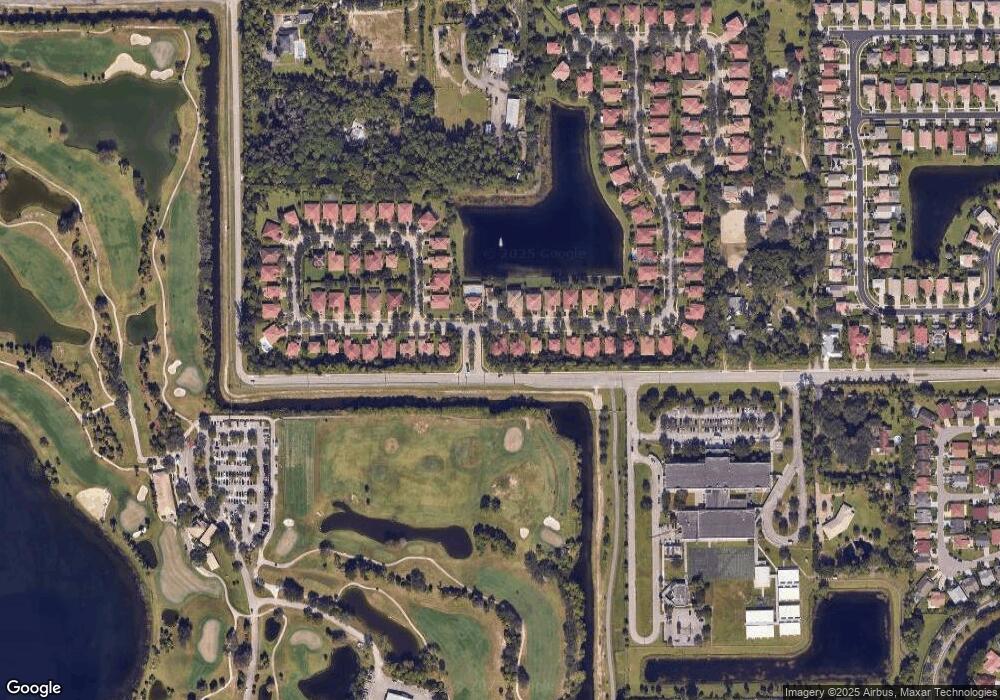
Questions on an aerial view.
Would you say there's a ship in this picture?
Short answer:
No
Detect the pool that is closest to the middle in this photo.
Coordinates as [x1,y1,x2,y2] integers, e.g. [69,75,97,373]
[465,285,482,298]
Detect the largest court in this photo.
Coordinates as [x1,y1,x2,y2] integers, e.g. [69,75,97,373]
[688,548,754,579]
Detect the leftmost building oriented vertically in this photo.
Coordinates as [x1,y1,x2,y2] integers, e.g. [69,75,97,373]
[150,472,177,521]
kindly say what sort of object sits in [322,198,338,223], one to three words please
house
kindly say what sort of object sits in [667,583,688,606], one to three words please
building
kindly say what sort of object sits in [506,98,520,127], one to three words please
shed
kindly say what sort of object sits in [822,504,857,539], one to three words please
house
